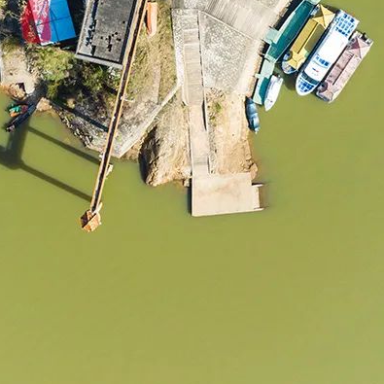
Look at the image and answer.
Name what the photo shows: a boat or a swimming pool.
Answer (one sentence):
It is a boat that can be seen here.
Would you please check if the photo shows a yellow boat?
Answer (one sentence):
Yes, the photo shows a yellow boat.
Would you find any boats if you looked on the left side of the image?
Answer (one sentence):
Yes, you'll find a boat on the left side of the image.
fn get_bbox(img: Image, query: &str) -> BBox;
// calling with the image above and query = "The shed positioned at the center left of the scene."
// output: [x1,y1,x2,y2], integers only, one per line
[79,210,103,234]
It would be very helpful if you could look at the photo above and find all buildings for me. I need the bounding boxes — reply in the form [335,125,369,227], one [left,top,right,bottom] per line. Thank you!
[22,0,78,48]
[77,0,140,70]
[79,210,103,234]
